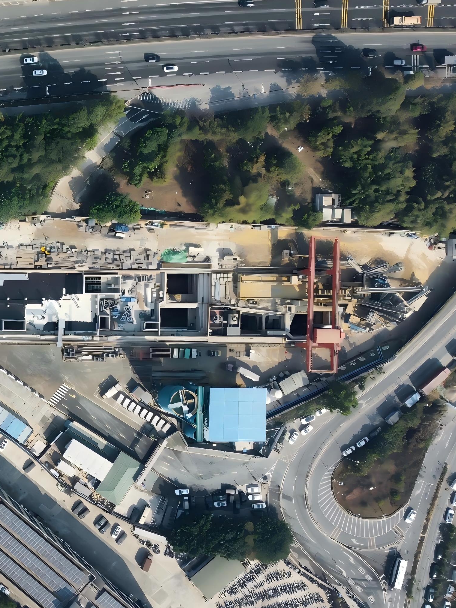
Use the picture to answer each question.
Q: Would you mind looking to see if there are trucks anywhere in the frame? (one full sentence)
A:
Yes, the frame does contain a truck.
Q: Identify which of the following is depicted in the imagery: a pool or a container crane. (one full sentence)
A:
It is a container crane that can be seen here.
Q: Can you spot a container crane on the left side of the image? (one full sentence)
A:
No, I can find no container crane on the left side of the image.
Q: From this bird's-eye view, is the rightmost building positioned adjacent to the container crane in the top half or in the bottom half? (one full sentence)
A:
It is in the top half that the rightmost building positioned adjacent to the container crane appears.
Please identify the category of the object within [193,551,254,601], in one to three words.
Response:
shed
